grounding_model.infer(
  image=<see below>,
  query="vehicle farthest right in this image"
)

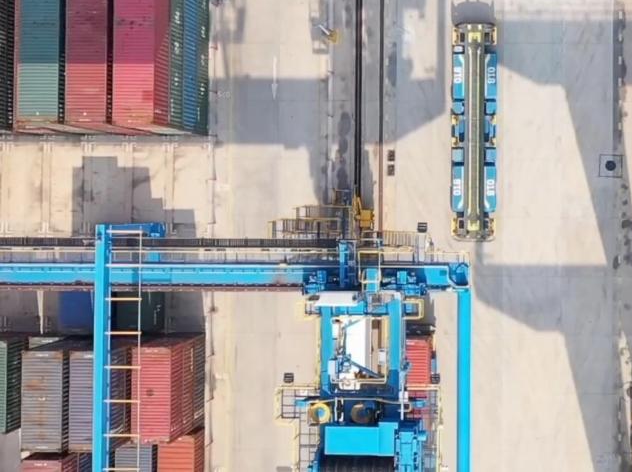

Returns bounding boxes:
[452,21,499,239]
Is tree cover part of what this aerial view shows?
No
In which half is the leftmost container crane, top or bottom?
bottom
